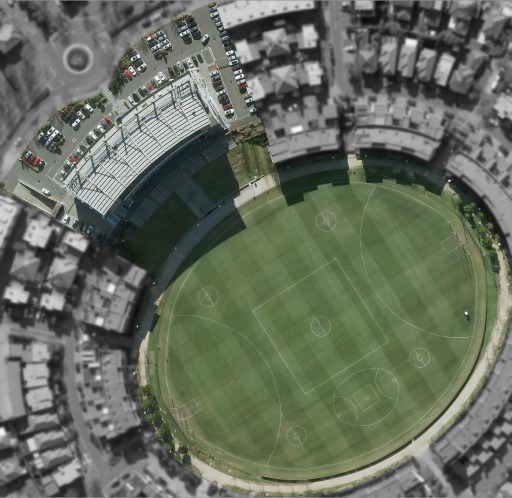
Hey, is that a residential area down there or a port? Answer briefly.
residential area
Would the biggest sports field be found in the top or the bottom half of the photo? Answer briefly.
bottom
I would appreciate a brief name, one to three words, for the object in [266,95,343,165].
building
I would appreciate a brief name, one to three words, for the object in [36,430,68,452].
house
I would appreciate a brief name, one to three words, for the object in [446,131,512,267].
building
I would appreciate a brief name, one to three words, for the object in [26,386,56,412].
house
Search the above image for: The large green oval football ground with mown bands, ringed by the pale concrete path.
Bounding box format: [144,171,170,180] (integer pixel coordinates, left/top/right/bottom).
[146,170,500,485]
